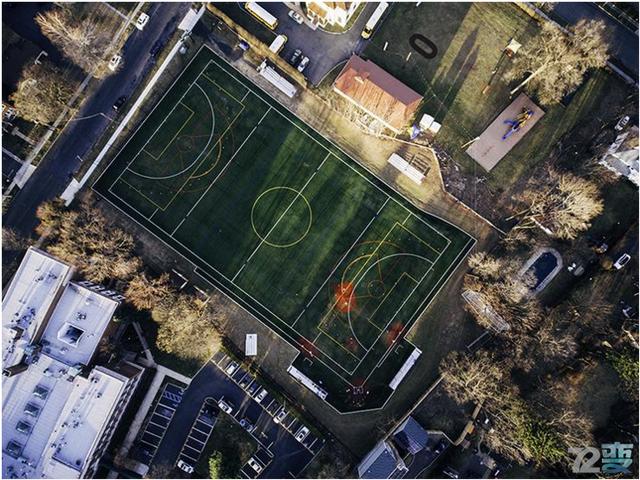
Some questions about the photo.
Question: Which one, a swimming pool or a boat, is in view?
swimming pool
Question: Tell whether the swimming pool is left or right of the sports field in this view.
right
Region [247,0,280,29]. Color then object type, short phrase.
white bus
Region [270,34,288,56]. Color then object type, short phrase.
white vehicle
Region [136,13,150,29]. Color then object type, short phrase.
white vehicle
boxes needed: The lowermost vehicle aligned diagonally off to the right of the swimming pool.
[615,253,629,269]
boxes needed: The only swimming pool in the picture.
[514,246,562,301]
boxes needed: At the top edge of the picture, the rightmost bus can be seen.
[361,0,388,39]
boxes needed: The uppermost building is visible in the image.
[304,0,359,39]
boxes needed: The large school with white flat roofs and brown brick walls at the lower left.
[0,246,149,480]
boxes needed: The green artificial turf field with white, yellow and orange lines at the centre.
[91,44,477,414]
